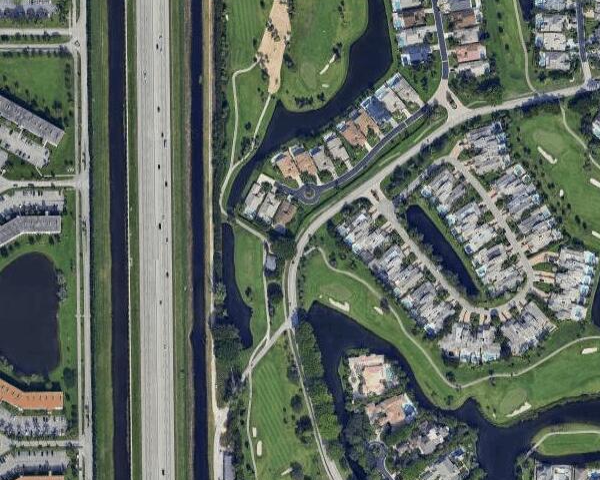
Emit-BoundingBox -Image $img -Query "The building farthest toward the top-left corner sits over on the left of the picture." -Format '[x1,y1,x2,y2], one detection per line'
[0,94,64,145]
